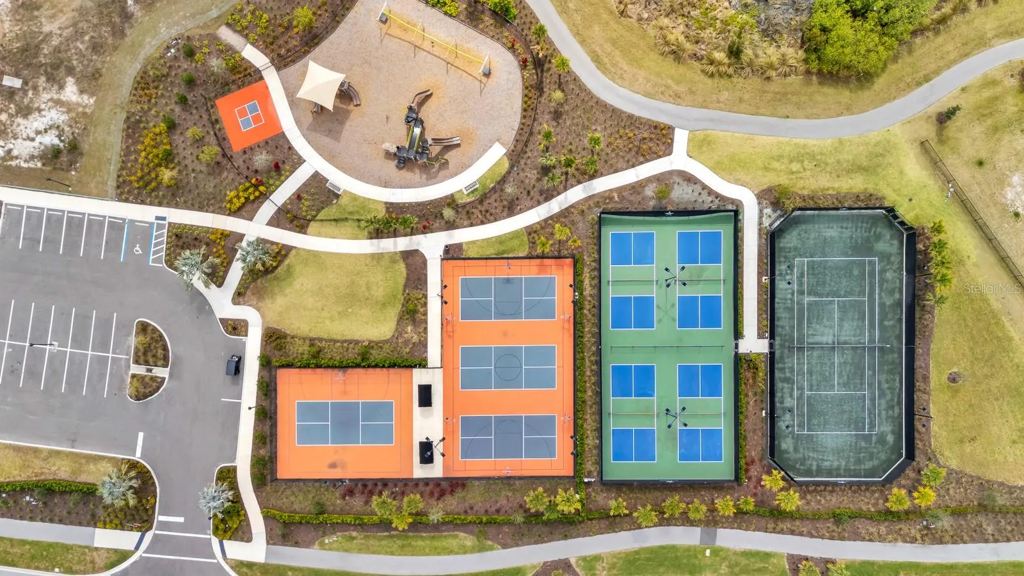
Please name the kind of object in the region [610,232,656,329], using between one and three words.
sports court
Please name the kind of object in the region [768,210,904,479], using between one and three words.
tennis court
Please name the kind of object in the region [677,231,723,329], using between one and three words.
sports court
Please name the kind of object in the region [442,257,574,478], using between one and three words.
basketball court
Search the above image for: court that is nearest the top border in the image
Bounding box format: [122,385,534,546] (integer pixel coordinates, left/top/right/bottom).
[215,80,282,151]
